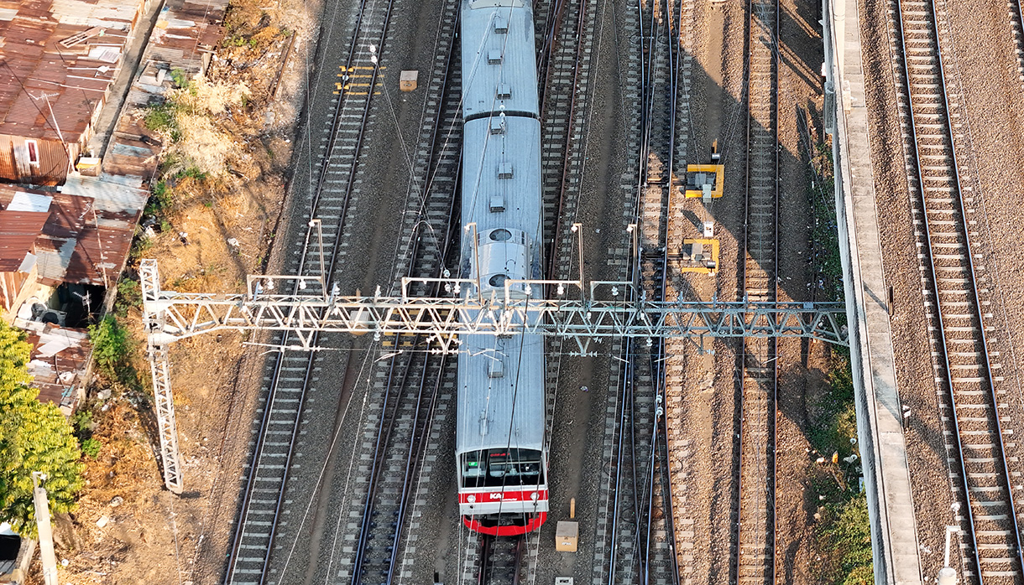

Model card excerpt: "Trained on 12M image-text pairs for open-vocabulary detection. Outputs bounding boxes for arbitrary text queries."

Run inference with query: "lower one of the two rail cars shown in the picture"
[452,114,550,536]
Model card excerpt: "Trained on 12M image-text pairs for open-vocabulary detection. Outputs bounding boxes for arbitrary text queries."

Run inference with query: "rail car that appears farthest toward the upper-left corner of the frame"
[458,0,539,133]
